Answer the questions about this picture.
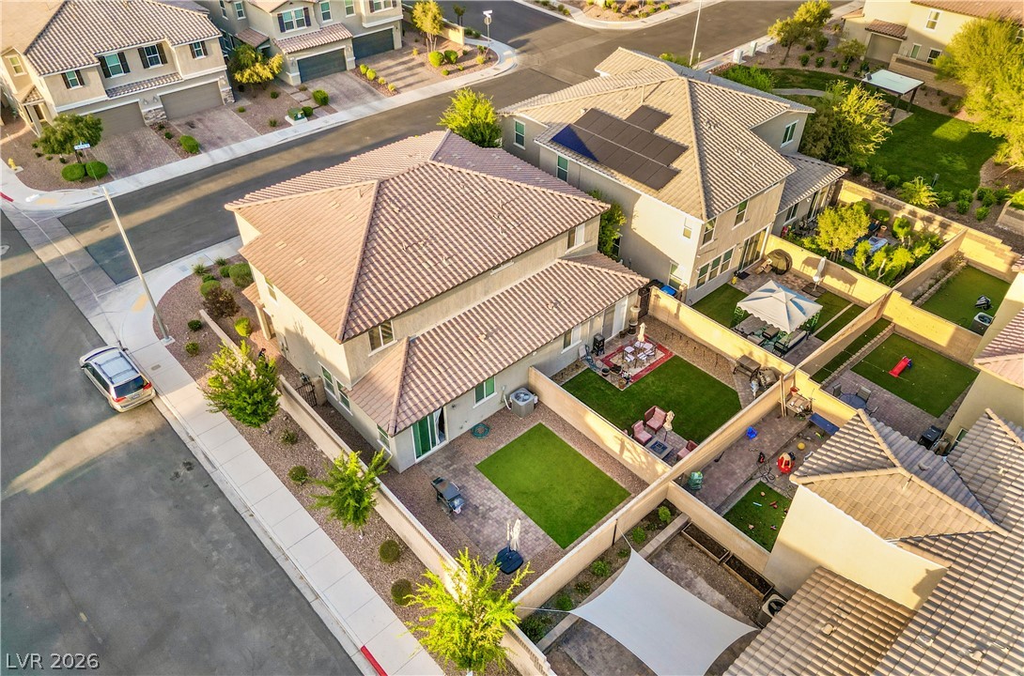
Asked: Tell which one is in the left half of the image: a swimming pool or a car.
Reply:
car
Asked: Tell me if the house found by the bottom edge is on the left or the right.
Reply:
right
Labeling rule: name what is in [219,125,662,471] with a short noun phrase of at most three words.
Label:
house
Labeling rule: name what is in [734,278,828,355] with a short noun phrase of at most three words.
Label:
gazebo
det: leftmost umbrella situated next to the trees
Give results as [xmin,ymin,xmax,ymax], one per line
[493,516,527,571]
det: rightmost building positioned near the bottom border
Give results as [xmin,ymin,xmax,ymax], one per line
[727,407,1024,676]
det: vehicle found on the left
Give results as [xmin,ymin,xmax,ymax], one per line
[84,344,155,414]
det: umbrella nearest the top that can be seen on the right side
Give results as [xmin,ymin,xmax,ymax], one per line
[812,256,825,289]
